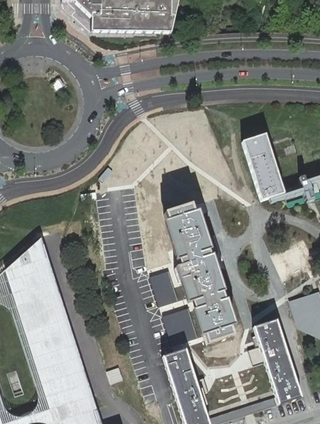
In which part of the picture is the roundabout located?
top left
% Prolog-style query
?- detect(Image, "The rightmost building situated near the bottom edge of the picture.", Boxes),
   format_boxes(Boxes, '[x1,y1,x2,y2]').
[251,318,302,404]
